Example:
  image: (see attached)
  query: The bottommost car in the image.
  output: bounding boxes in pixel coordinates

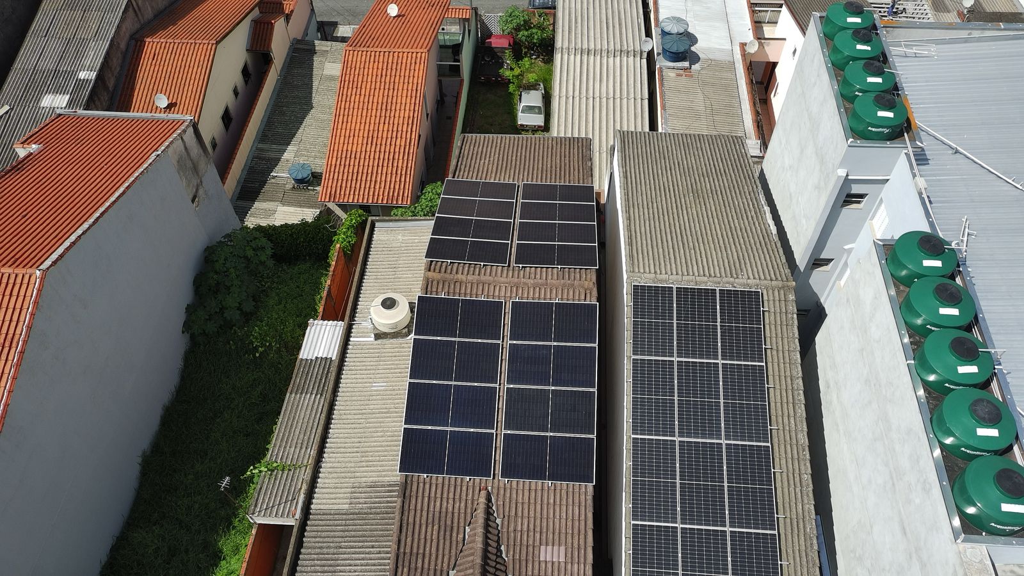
[517,80,550,133]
